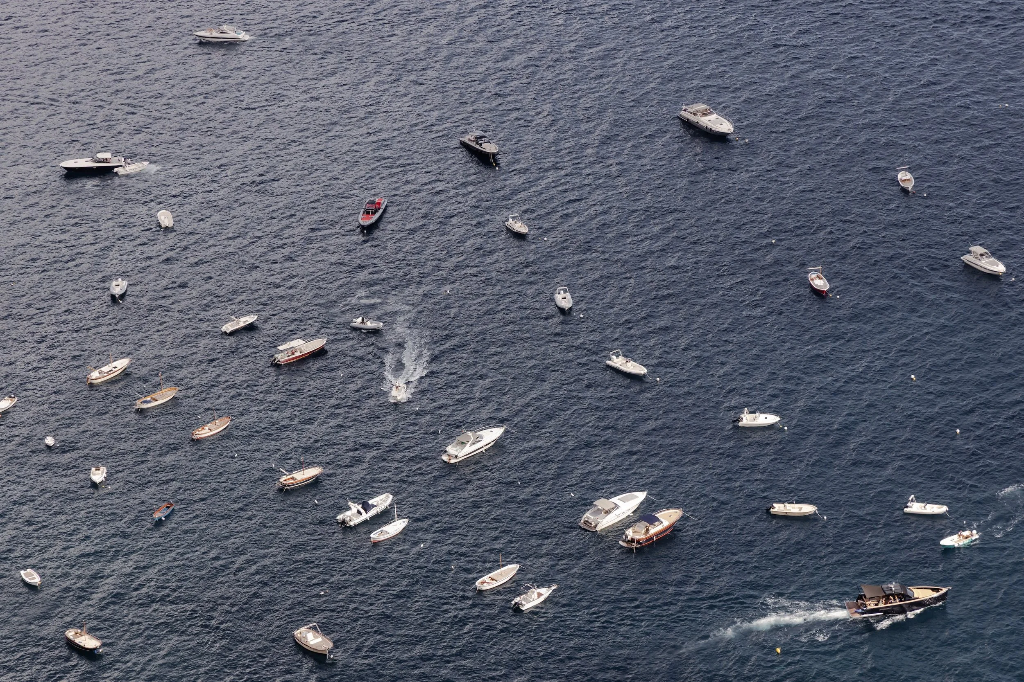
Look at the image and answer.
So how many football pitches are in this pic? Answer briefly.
zero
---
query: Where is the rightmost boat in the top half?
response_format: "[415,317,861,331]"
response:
[961,247,1006,276]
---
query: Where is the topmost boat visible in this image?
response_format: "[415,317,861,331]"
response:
[194,25,249,42]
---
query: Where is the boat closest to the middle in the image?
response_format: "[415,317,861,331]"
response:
[555,286,574,314]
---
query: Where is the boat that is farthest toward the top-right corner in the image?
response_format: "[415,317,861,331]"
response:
[898,164,913,191]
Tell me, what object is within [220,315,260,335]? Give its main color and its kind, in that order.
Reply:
white boat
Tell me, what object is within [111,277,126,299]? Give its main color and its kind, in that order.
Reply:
white boat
